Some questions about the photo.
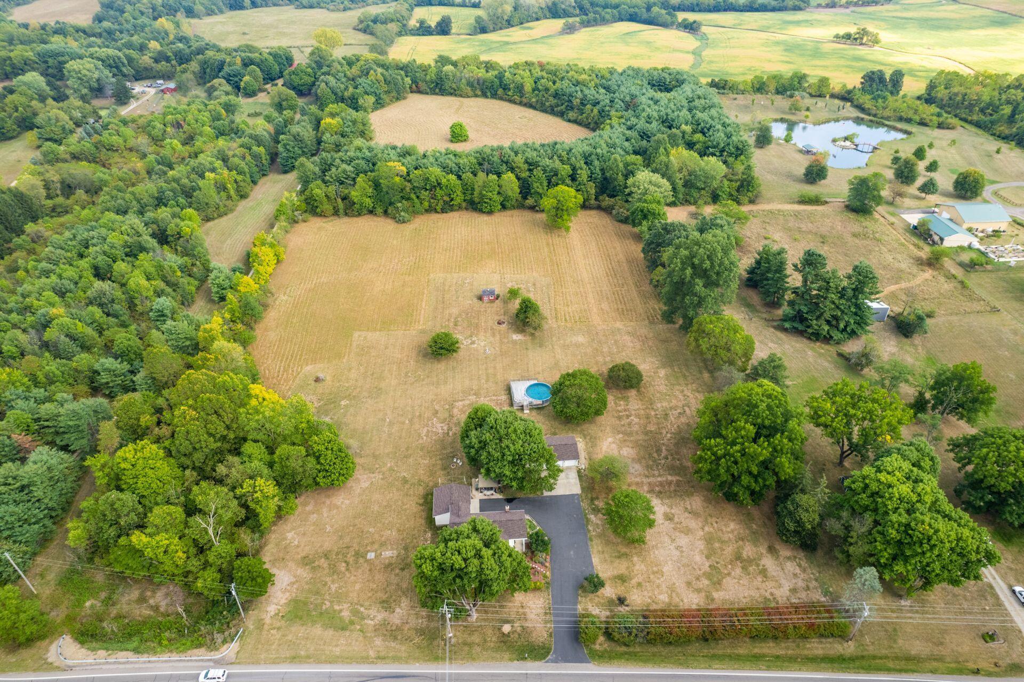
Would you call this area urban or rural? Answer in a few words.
rural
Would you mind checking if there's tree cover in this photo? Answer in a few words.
Yes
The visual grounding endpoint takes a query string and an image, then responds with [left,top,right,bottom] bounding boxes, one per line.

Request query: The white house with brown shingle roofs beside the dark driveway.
[432,481,527,548]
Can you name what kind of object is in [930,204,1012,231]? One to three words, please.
barn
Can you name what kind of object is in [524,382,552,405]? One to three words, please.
swimming pool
